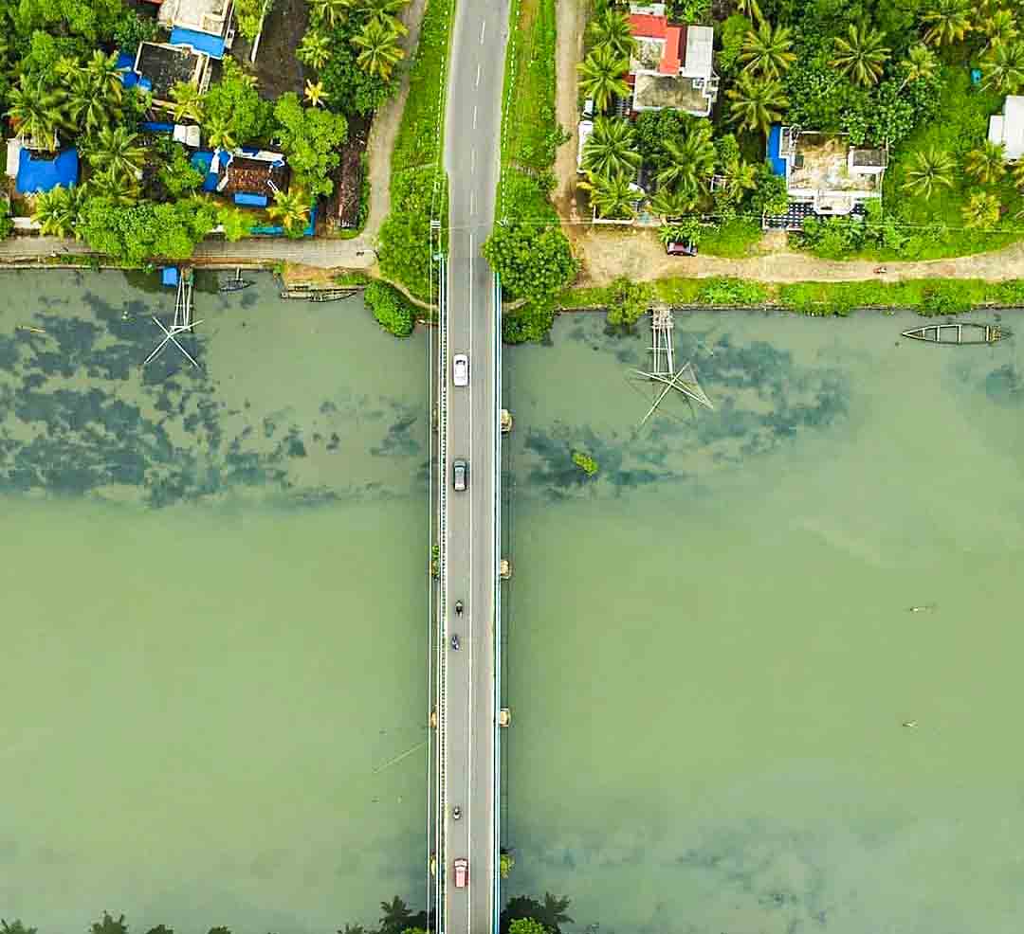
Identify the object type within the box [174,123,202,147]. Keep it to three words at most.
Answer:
shed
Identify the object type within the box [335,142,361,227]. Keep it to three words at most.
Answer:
shed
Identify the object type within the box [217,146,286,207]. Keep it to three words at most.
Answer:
house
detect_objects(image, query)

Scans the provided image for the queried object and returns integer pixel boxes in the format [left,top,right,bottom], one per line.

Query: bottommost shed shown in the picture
[161,266,183,287]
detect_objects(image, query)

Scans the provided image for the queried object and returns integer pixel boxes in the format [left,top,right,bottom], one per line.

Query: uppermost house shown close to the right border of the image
[982,95,1024,163]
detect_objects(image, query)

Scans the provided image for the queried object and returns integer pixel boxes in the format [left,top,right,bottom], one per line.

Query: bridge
[436,248,512,934]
